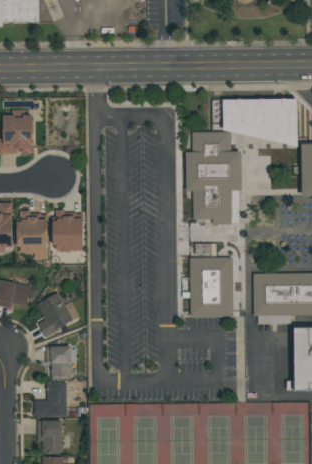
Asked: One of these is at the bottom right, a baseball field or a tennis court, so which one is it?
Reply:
tennis court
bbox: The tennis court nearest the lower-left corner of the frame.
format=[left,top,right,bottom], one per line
[90,404,126,464]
